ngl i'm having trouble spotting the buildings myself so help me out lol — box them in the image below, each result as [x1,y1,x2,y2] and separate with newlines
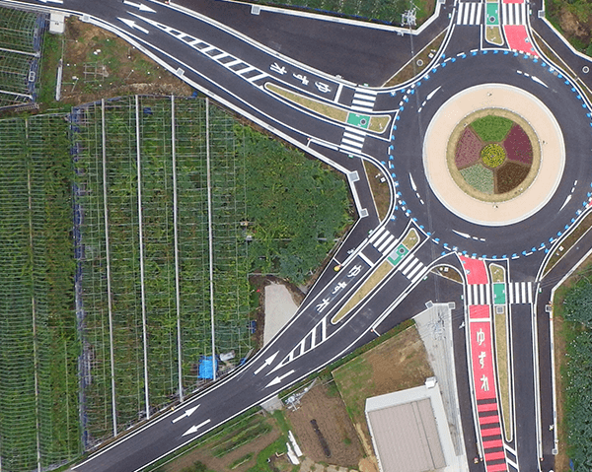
[367,376,460,472]
[49,10,69,34]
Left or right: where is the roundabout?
right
